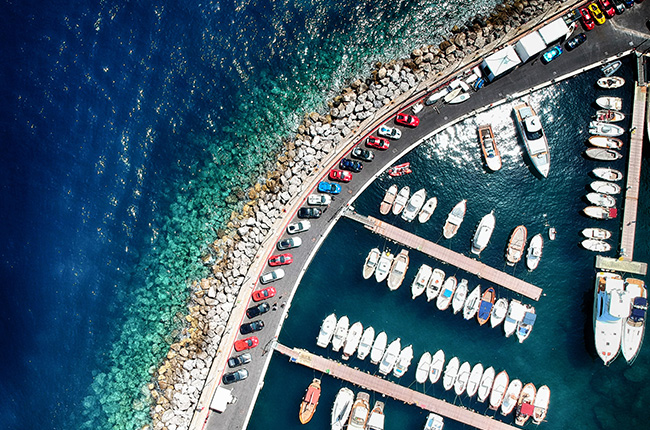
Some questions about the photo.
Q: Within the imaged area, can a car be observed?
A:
Yes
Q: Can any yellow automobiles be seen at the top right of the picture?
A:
Yes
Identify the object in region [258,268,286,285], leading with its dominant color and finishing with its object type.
white car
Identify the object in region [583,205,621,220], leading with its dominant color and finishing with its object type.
white boat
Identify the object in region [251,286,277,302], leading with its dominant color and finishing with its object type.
red car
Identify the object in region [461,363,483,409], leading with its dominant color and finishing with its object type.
white boat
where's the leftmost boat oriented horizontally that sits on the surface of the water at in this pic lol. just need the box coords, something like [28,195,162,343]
[388,163,413,177]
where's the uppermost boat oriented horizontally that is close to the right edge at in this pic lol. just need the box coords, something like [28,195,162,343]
[596,76,625,89]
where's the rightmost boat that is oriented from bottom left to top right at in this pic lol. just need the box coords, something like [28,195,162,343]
[600,60,621,77]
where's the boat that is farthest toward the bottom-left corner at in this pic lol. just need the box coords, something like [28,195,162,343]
[300,375,323,425]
